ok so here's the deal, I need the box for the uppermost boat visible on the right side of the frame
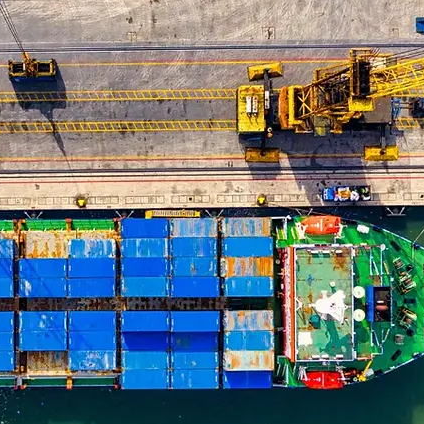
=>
[297,214,343,235]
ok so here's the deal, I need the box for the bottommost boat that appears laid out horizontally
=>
[300,369,346,390]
